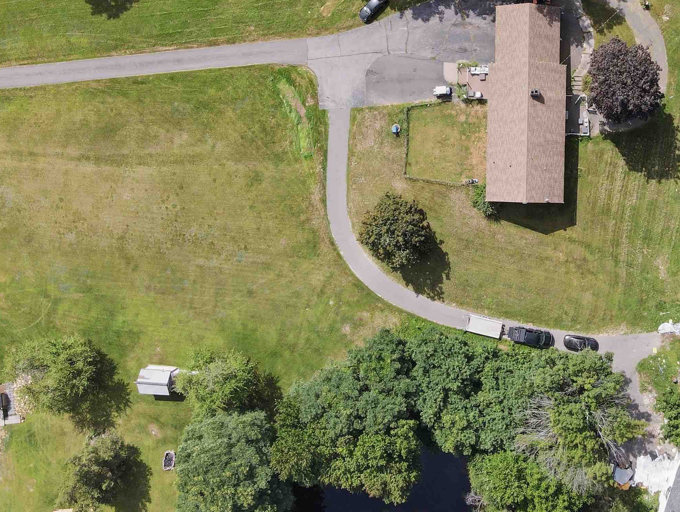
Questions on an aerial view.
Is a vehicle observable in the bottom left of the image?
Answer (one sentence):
No, there's no vehicle to be seen in the bottom left of the image.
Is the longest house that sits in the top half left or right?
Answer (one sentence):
The longest house that sits in the top half is on the right side of the image.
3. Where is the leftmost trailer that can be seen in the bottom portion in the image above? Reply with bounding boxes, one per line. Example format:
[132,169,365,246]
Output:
[459,314,508,338]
